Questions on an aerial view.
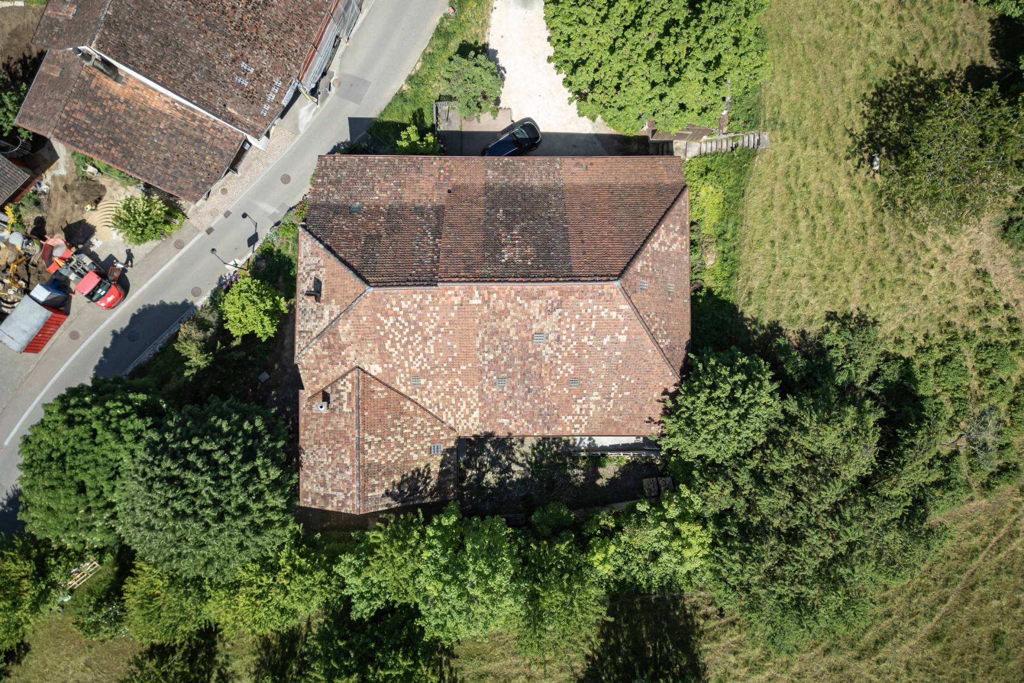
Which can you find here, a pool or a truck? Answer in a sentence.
There is a truck in the scene.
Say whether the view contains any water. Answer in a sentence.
No, there's no water in this view.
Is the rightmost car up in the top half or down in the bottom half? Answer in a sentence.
It is in the top half that the rightmost car appears.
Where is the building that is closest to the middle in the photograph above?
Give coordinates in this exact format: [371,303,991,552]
[294,154,693,514]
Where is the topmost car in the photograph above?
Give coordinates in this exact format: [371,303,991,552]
[475,116,543,154]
